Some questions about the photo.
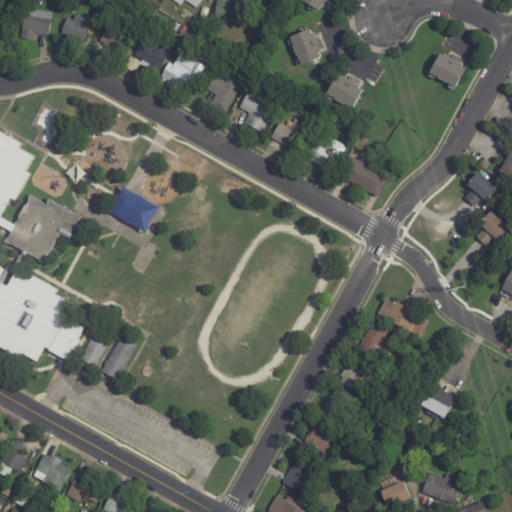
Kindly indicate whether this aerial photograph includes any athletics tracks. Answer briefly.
Yes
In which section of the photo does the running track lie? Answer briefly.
center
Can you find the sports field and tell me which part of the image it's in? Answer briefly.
center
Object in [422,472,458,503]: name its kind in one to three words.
house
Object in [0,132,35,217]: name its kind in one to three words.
building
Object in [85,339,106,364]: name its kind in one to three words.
shed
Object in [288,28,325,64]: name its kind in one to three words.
house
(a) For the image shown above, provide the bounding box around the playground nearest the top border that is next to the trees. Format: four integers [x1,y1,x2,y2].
[86,134,128,171]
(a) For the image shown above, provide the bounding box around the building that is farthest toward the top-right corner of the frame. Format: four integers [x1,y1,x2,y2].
[428,52,466,90]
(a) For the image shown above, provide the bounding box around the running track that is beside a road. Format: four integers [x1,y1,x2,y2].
[200,224,324,386]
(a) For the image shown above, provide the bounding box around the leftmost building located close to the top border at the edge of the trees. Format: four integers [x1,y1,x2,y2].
[22,11,53,40]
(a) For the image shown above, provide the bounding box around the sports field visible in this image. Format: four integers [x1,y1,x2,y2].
[208,230,318,377]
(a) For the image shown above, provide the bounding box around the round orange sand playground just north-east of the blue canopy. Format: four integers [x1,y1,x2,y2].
[143,174,176,204]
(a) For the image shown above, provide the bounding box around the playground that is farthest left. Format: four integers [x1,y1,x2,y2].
[33,167,67,198]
